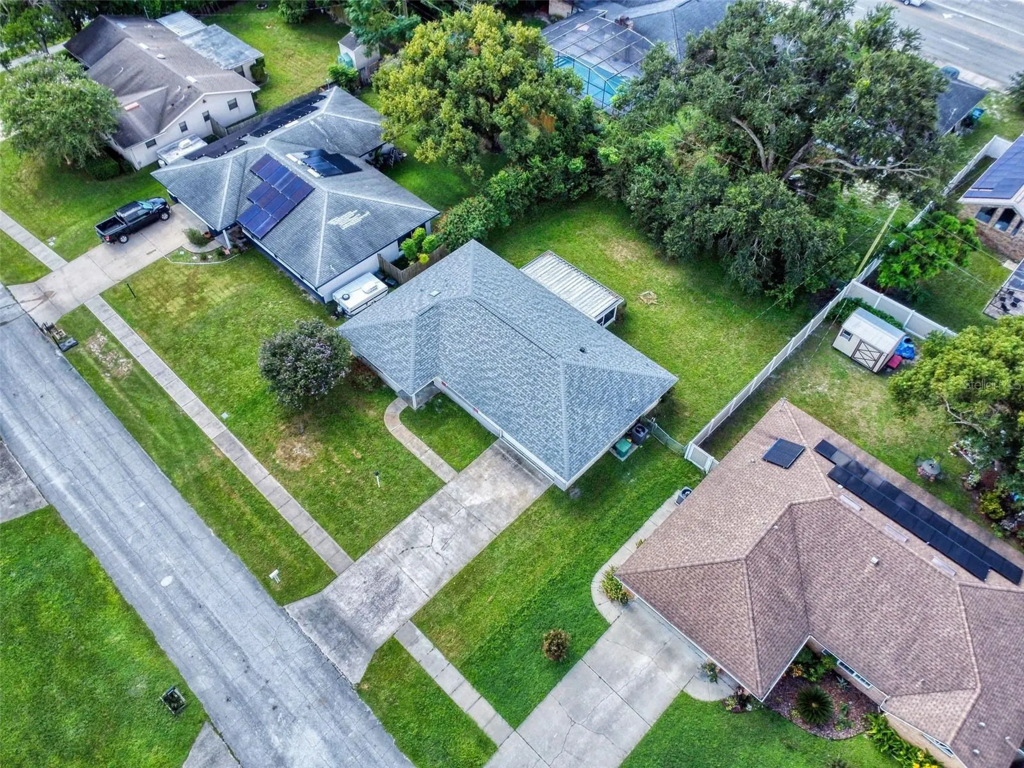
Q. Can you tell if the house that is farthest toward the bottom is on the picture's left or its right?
right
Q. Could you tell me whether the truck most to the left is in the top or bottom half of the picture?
top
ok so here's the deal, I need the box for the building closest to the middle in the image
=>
[338,239,677,492]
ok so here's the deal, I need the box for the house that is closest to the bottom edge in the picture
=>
[615,397,1024,768]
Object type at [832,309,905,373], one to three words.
shed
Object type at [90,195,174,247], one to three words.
truck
